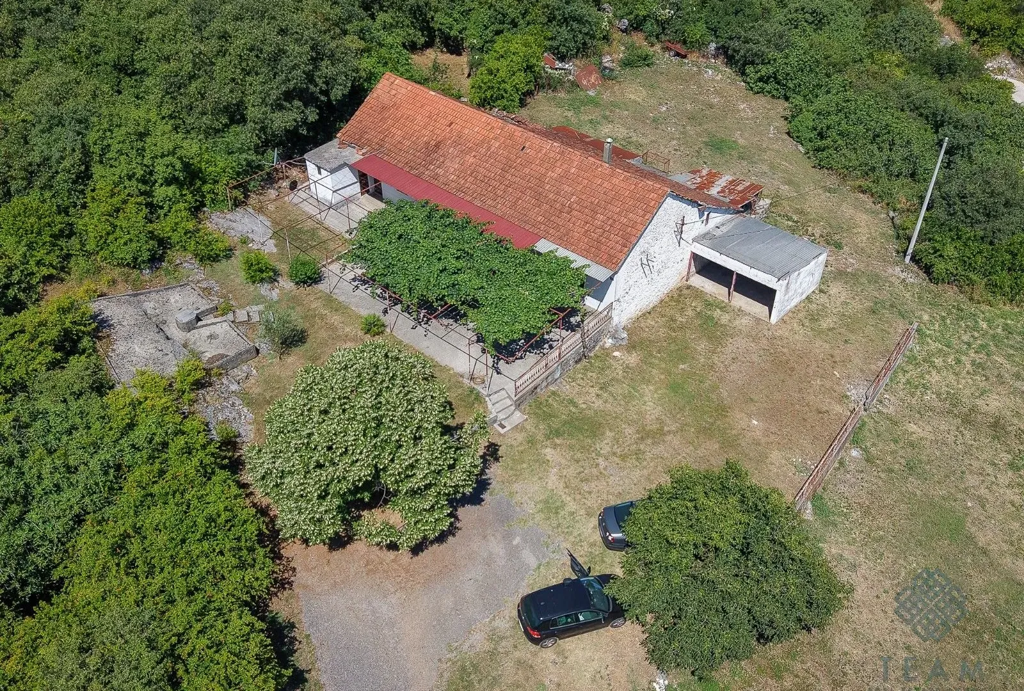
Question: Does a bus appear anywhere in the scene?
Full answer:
No, this view has no bus in it.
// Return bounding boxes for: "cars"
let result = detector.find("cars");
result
[513,547,636,646]
[598,499,650,555]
